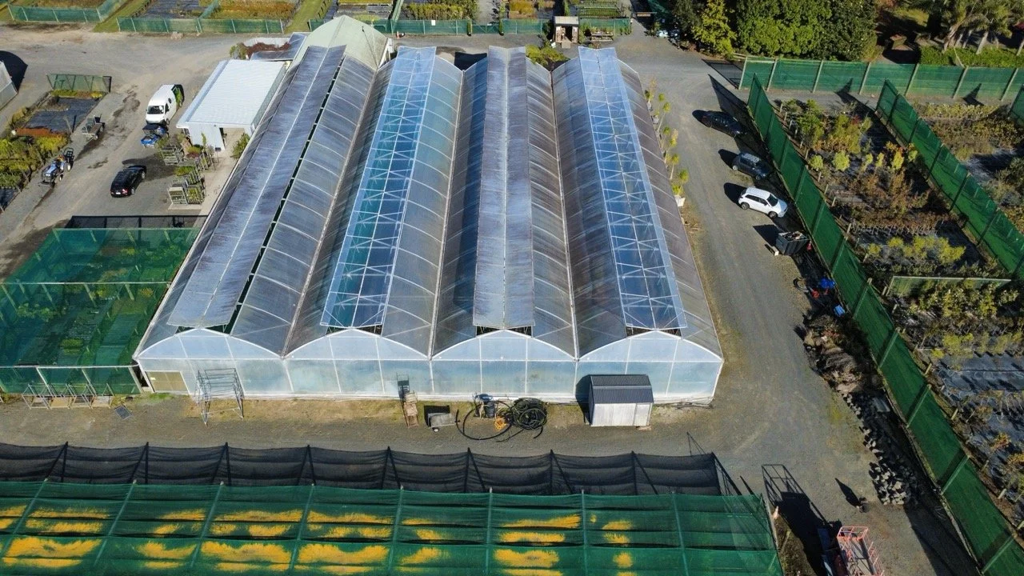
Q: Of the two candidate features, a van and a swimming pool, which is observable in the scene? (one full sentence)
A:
It is a van that can be seen here.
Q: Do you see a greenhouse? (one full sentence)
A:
Yes, the frame does contain a greenhouse.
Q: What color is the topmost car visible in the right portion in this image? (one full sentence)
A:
The topmost car visible in the right portion is black.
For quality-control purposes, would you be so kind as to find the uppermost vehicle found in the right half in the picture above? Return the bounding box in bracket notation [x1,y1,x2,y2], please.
[704,110,752,138]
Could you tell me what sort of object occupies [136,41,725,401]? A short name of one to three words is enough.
greenhouse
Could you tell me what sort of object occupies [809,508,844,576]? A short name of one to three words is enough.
trailer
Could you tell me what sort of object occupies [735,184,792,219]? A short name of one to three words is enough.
car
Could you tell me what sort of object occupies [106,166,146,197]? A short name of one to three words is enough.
car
